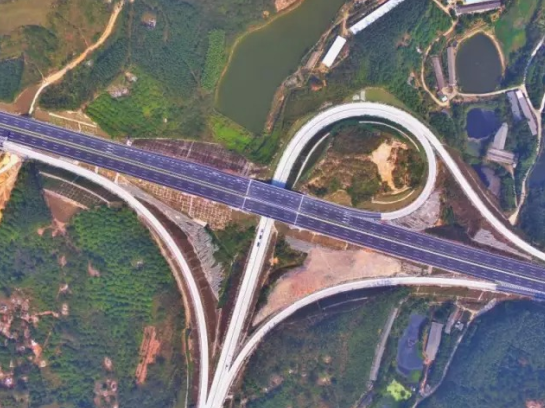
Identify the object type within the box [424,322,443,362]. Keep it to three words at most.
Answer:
shed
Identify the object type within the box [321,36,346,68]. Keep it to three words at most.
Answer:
building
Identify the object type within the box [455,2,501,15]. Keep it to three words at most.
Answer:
barn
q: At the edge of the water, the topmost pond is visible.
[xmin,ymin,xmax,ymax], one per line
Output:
[455,32,502,93]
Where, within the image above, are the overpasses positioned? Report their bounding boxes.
[243,180,306,226]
